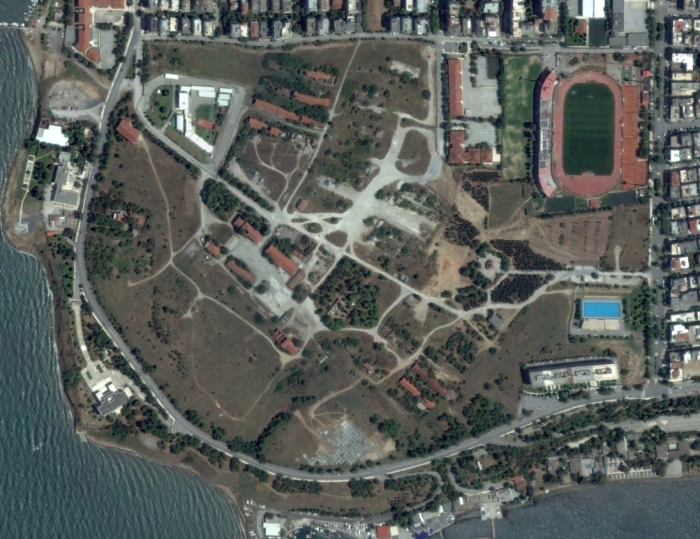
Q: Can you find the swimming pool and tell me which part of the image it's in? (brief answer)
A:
right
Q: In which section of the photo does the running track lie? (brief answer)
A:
top right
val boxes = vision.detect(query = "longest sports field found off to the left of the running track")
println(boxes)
[502,52,541,181]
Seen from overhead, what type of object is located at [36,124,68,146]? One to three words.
building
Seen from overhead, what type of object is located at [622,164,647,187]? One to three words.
tennis court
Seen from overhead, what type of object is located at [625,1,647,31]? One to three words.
building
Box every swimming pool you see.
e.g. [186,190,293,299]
[582,296,623,319]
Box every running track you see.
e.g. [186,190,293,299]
[552,69,623,196]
